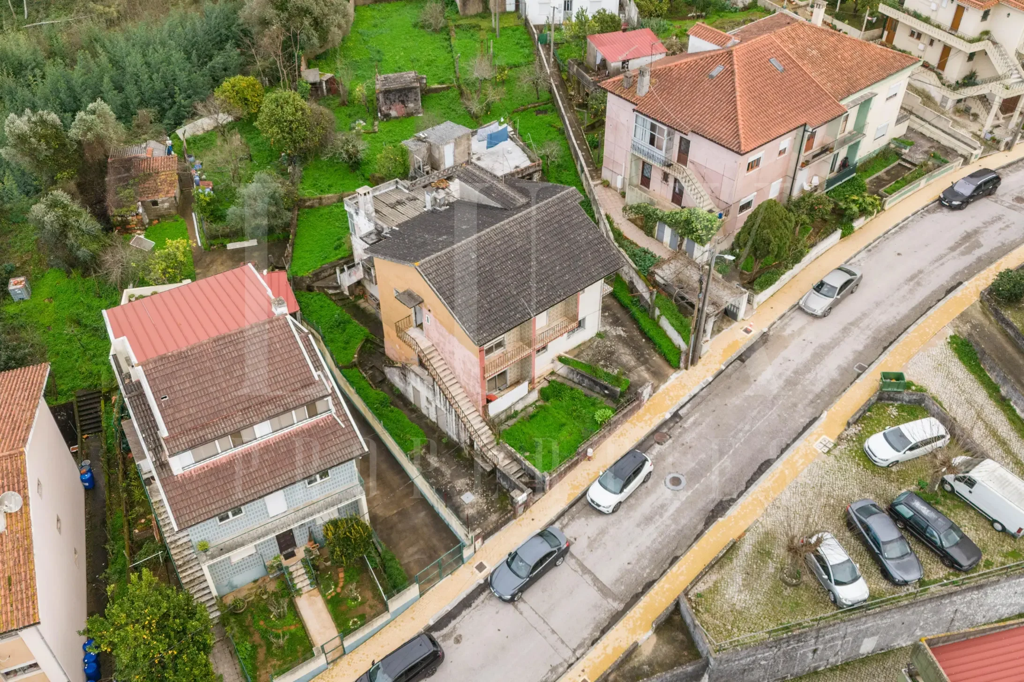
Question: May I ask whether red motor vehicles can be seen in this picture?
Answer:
No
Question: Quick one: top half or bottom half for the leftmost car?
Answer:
bottom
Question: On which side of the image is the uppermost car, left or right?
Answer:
right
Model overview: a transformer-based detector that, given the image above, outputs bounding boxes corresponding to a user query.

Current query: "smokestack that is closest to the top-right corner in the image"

[811,2,830,25]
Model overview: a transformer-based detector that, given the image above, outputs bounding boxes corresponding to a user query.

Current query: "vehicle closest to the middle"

[587,450,654,517]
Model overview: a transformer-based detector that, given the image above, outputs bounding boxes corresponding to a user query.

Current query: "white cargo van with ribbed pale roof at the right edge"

[940,459,1024,545]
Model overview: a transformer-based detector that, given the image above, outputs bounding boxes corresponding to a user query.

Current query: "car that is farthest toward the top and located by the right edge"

[942,167,1005,210]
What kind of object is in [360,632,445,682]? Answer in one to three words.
car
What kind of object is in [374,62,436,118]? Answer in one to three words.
shed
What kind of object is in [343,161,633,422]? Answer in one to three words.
house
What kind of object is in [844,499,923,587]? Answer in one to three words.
car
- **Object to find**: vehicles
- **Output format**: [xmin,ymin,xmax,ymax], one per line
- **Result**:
[801,266,864,319]
[806,535,868,612]
[360,632,445,682]
[844,499,923,587]
[487,529,570,607]
[940,459,1024,545]
[942,167,1005,210]
[587,450,654,517]
[867,415,952,466]
[890,494,979,572]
